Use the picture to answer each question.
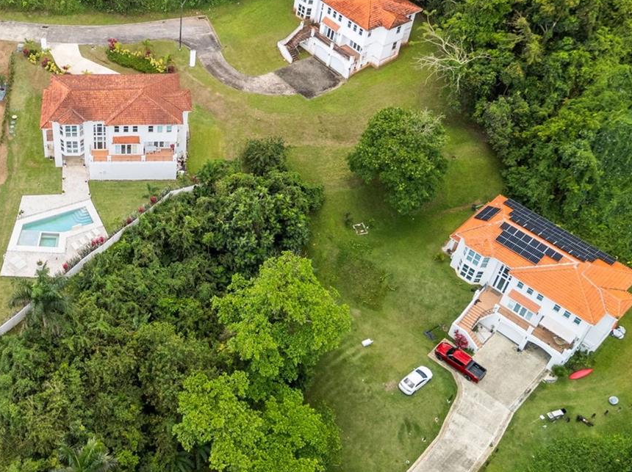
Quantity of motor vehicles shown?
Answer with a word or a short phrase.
2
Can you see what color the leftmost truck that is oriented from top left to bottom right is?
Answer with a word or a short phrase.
red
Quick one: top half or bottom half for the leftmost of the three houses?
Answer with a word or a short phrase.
top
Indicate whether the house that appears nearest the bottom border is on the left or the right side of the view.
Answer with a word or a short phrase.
right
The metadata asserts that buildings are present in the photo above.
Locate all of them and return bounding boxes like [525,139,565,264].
[43,73,193,181]
[287,0,422,76]
[441,194,632,372]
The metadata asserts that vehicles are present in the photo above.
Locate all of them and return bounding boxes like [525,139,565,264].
[399,364,433,395]
[436,340,488,382]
